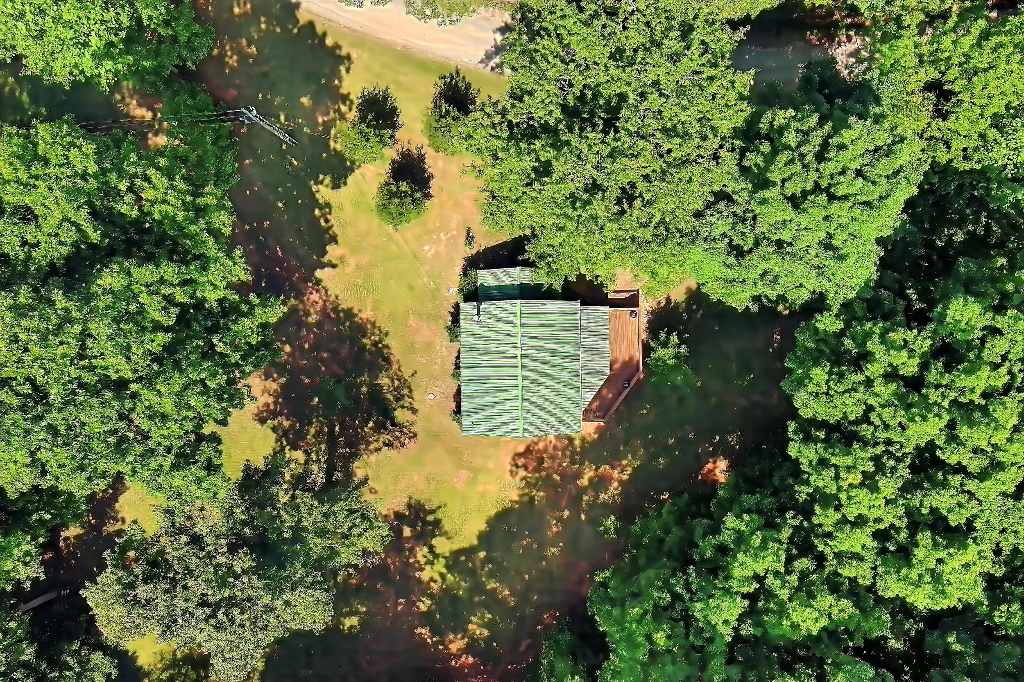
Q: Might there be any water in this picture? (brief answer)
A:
No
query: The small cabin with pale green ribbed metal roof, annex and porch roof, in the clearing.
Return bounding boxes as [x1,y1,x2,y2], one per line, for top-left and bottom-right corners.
[459,266,610,439]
